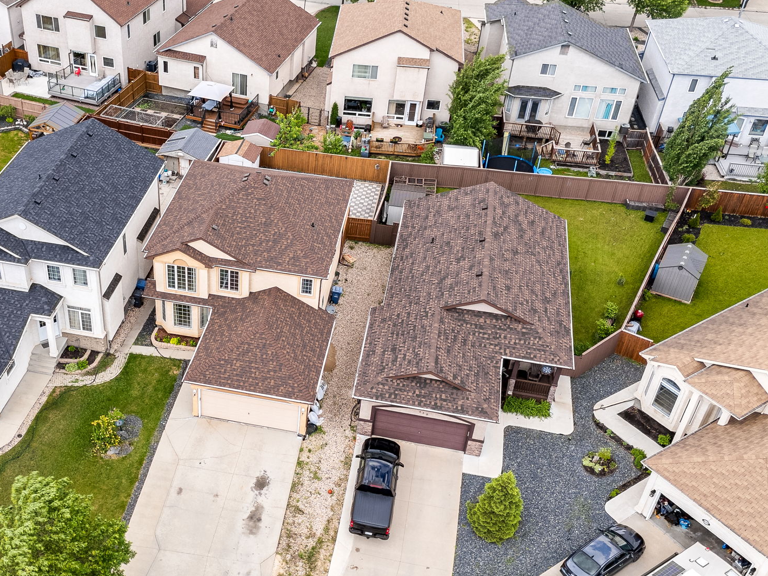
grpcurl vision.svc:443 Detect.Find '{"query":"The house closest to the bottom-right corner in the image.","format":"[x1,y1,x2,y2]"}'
[630,286,768,576]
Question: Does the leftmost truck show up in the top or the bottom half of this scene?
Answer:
bottom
